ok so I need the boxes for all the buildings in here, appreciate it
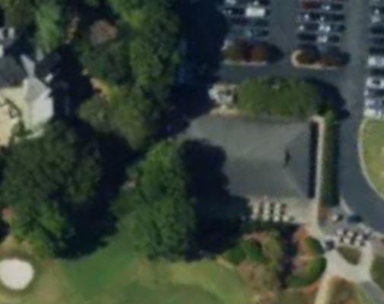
[0,30,53,148]
[210,85,235,105]
[188,117,311,199]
